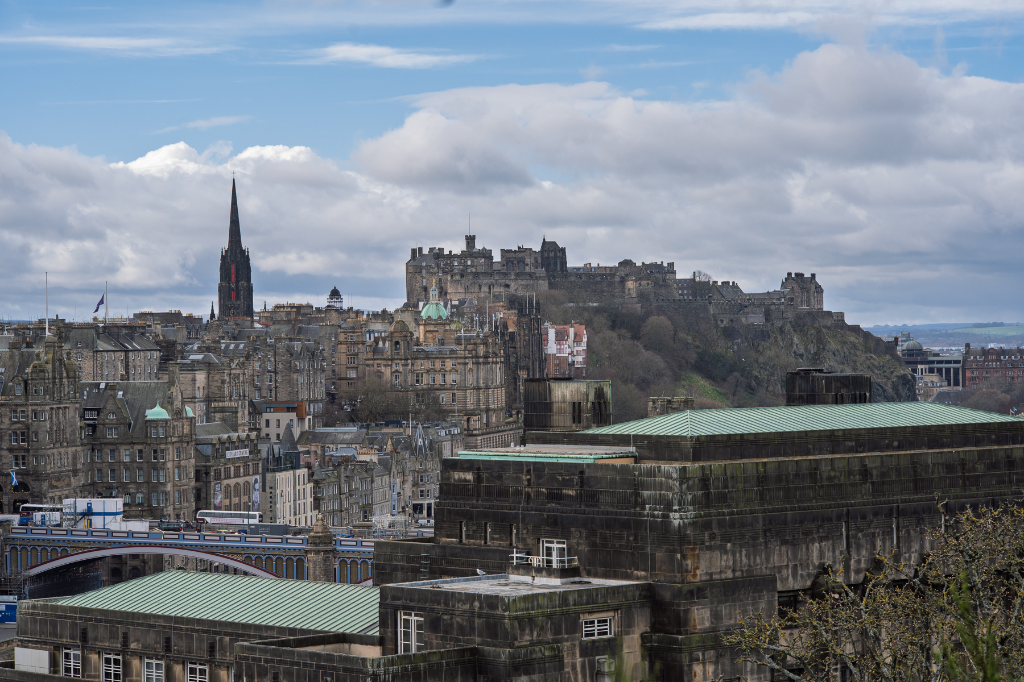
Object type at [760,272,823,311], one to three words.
building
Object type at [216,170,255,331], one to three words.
building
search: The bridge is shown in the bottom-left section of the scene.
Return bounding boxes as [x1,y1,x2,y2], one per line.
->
[0,515,435,624]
